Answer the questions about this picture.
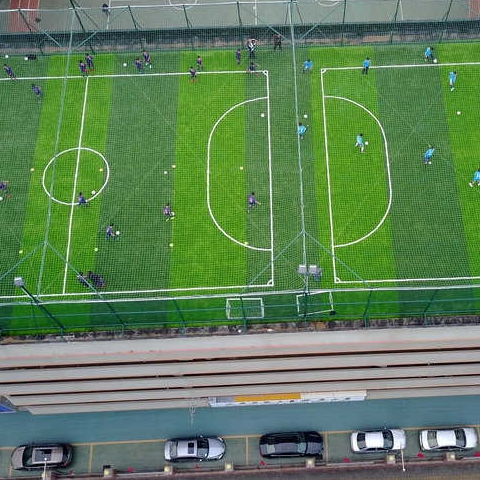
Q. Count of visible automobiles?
5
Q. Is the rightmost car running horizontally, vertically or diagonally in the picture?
horizontally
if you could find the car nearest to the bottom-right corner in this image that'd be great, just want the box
[418,424,478,454]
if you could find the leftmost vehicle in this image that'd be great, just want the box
[11,442,74,473]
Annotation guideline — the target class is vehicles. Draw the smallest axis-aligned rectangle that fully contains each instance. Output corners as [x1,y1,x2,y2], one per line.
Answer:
[418,424,478,454]
[11,442,74,473]
[258,429,325,460]
[164,433,227,463]
[350,425,406,455]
